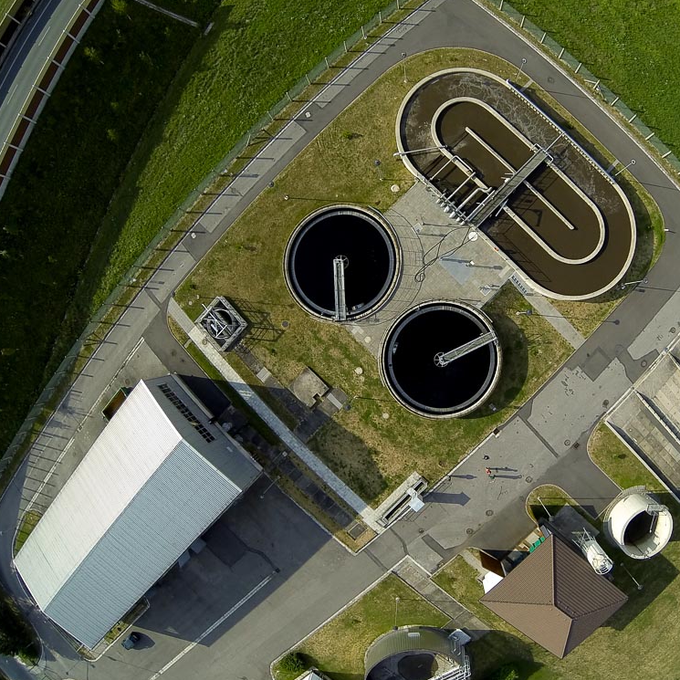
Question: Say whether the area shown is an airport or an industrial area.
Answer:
industrial area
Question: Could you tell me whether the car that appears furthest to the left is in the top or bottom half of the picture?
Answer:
bottom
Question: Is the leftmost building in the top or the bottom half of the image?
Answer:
bottom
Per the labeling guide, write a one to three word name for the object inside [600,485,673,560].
silo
